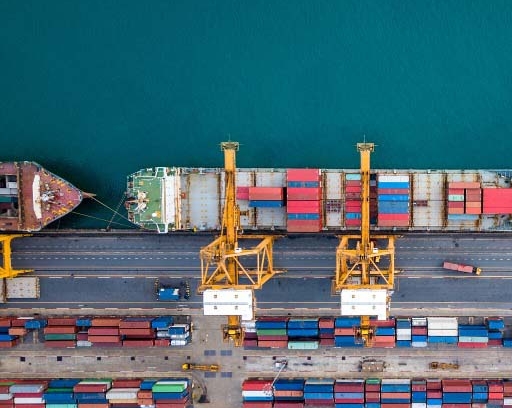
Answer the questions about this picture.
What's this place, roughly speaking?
port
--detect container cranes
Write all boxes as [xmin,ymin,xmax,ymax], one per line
[330,133,409,342]
[0,237,32,281]
[195,133,288,342]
